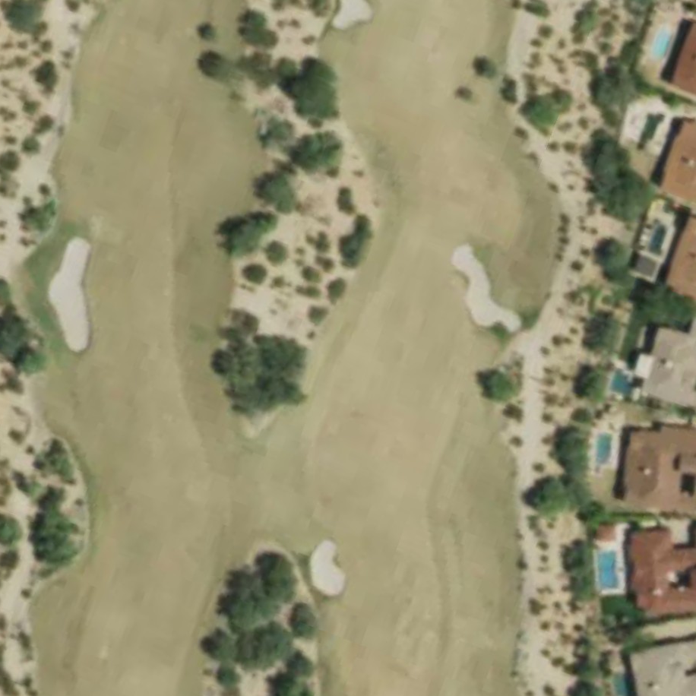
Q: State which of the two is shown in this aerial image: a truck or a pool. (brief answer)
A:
pool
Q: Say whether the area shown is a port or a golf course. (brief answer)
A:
golf course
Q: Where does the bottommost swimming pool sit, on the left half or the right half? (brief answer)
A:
right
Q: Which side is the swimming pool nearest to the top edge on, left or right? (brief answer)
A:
right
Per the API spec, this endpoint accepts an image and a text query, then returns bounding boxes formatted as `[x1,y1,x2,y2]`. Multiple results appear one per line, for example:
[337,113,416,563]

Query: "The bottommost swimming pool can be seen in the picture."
[607,667,634,696]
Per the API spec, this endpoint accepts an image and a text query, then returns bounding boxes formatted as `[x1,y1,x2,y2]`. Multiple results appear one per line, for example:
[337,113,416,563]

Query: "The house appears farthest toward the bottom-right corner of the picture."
[632,643,696,696]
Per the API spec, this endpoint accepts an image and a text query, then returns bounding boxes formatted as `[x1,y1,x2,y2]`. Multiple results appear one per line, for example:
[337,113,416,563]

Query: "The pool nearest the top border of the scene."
[645,13,684,70]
